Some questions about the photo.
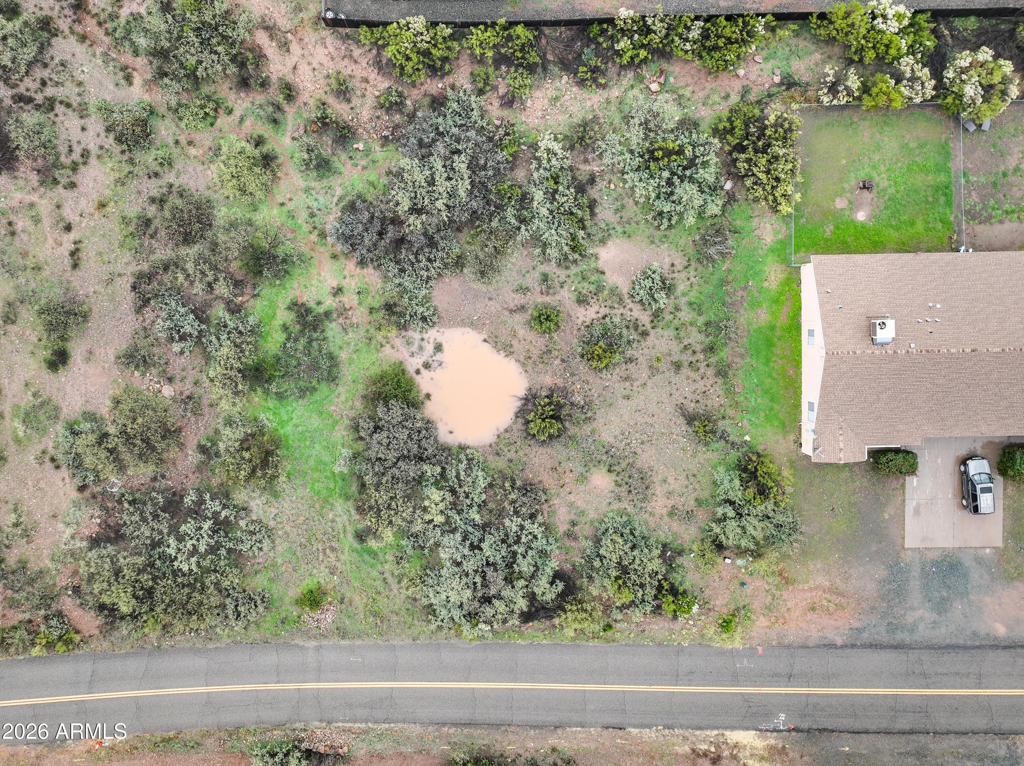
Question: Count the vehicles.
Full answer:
In total, there is 1 vehicle in the scene.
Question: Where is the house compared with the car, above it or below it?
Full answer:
Within the scene, the house can be found above the car.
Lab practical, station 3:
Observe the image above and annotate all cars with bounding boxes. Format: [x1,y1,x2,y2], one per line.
[957,455,993,517]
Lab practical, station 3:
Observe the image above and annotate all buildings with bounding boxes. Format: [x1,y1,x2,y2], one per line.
[798,252,1024,463]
